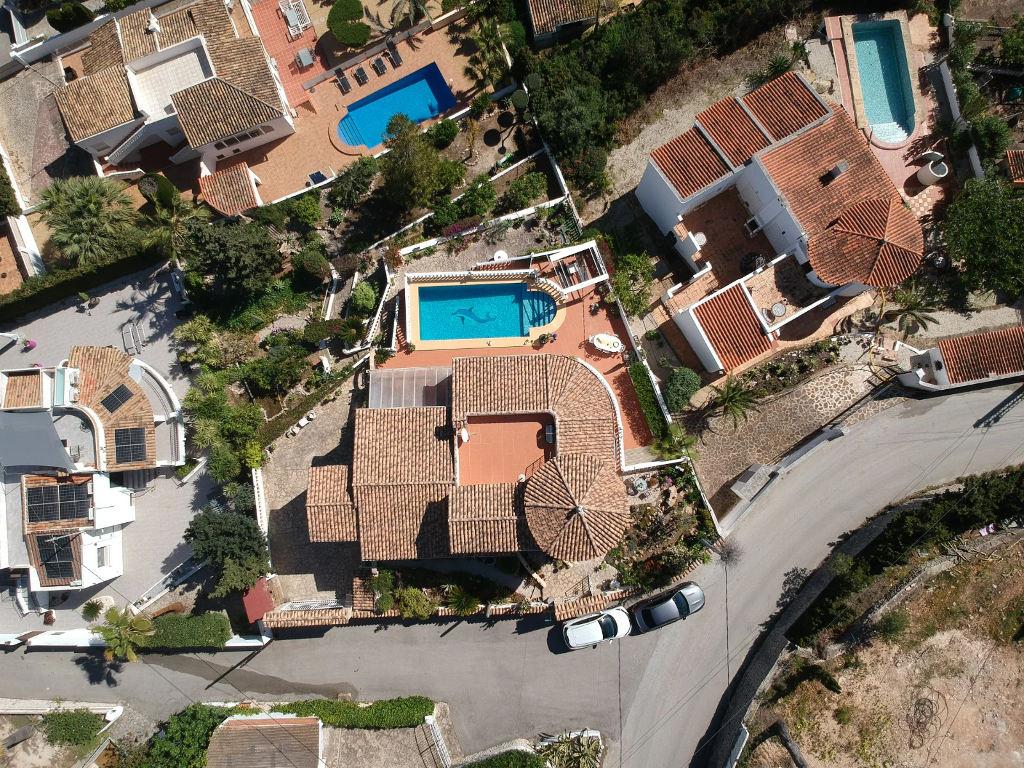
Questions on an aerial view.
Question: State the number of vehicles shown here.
2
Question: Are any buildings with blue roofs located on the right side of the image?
No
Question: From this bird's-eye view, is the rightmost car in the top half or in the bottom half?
bottom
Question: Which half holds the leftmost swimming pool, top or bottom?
top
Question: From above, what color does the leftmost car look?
white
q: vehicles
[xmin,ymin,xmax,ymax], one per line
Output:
[630,582,707,632]
[562,603,633,650]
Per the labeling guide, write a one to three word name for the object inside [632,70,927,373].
house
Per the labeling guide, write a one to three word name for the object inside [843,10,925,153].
swimming pool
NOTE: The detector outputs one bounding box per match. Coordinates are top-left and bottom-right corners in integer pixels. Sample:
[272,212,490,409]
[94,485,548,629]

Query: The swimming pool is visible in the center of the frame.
[410,272,567,350]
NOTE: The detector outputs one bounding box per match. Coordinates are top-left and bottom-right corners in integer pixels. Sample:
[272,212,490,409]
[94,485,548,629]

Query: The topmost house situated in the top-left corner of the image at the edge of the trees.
[53,0,302,182]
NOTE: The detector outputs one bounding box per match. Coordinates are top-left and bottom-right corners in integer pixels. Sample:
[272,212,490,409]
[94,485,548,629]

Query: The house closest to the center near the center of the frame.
[302,355,633,564]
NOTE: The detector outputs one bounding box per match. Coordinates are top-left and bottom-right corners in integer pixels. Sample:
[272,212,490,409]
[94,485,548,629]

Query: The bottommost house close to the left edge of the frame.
[0,345,192,594]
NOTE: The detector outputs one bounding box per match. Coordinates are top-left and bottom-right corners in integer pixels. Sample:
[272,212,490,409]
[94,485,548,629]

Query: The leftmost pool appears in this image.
[326,54,465,161]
